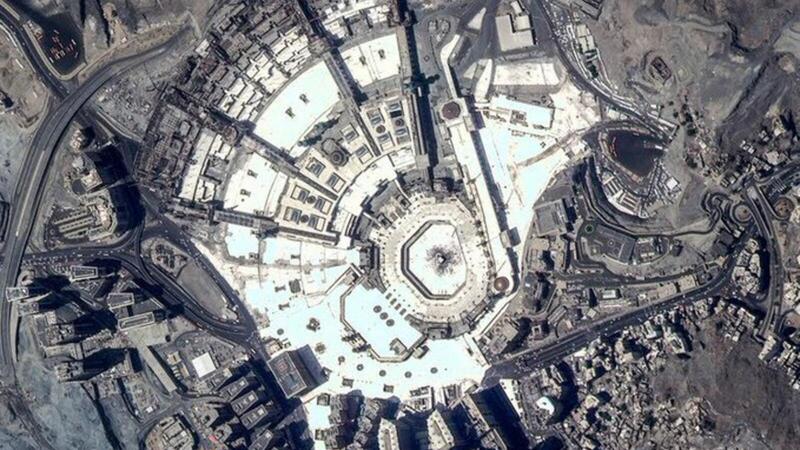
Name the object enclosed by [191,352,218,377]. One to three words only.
shed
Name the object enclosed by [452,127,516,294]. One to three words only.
building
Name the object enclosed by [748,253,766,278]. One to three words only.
building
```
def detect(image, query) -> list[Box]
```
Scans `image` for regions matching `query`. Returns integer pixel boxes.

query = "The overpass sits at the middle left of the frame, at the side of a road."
[1,55,134,393]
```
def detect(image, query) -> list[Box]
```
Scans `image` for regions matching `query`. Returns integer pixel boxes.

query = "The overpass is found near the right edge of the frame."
[734,173,783,346]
